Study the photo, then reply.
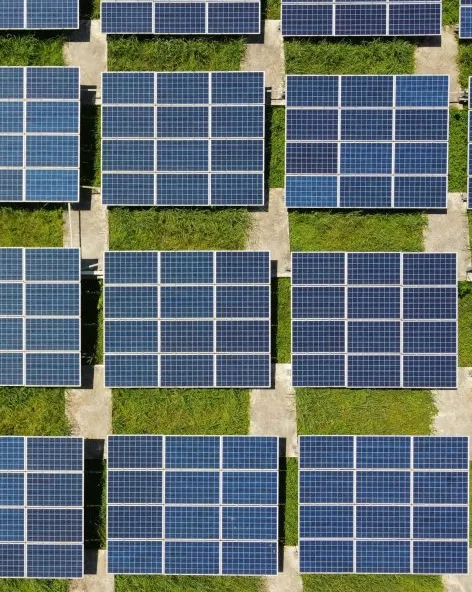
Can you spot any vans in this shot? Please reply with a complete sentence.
No, I can't see a single van in this photo.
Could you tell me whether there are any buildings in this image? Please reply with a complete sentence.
No, the scene contains no building.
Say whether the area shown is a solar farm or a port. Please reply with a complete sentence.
What you see here is a solar farm.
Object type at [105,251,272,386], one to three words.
solar array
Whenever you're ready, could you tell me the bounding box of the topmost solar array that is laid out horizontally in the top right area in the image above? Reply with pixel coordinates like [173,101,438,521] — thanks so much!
[279,0,441,36]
